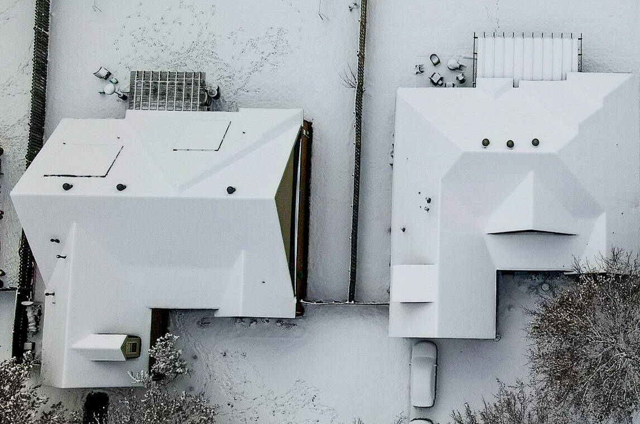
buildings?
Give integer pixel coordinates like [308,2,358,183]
[12,108,308,387]
[389,74,640,339]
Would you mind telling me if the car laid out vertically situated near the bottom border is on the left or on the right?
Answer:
right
